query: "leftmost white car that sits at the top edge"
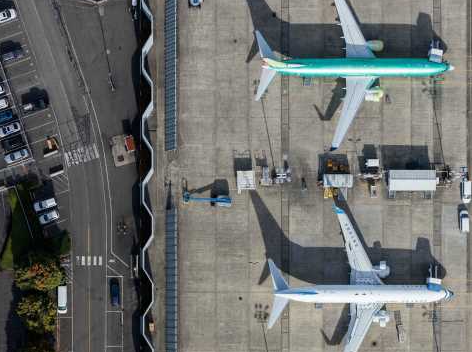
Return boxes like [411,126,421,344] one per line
[0,10,16,24]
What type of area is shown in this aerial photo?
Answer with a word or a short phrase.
airport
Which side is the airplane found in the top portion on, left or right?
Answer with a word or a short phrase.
right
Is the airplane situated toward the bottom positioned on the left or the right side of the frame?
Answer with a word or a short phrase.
right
